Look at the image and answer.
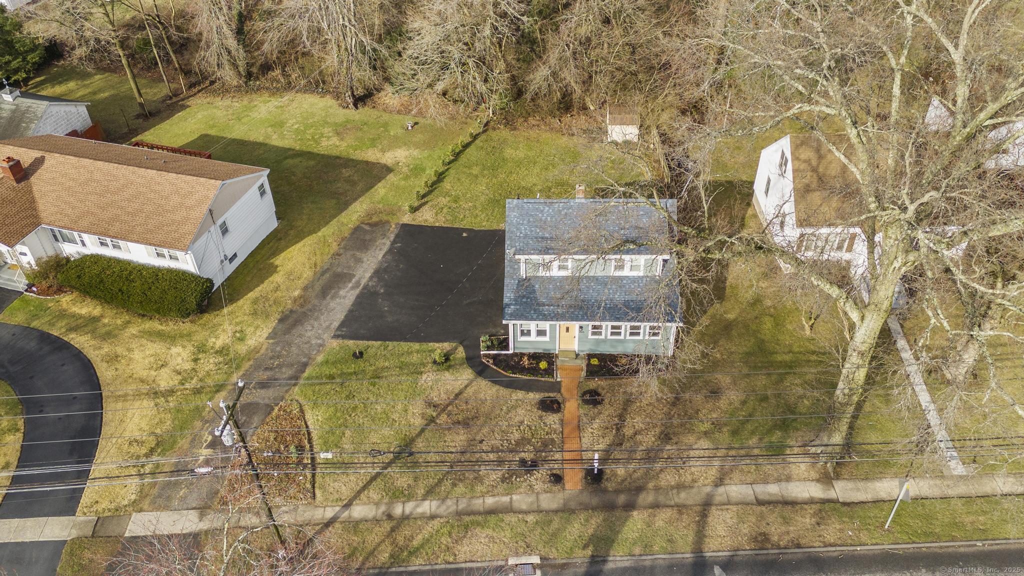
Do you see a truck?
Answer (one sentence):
No, no truck is visible in the scene.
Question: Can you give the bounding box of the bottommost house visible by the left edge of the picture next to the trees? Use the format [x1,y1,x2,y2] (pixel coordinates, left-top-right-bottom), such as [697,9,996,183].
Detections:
[0,133,277,300]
